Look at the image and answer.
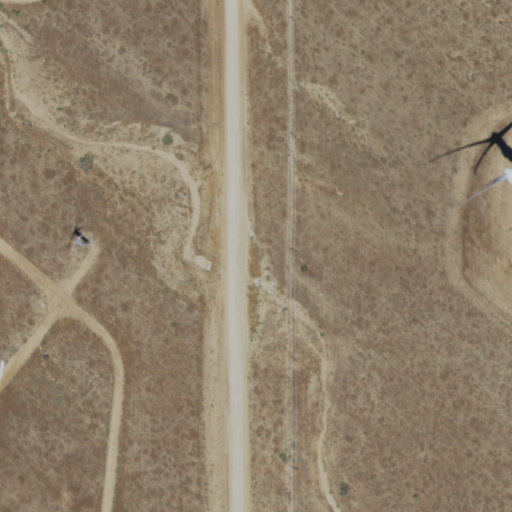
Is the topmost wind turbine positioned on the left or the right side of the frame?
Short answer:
right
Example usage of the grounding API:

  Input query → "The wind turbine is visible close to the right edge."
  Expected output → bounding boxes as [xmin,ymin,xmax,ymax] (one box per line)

[446,170,512,216]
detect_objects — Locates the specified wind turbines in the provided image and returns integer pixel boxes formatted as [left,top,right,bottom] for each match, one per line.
[446,170,512,216]
[70,234,91,256]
